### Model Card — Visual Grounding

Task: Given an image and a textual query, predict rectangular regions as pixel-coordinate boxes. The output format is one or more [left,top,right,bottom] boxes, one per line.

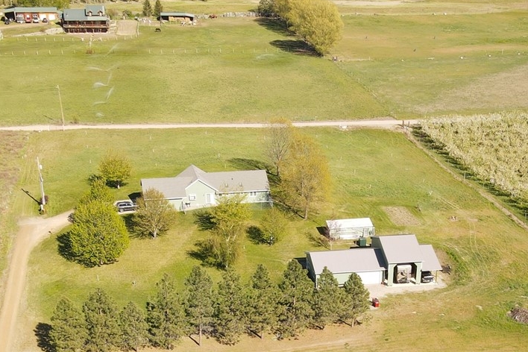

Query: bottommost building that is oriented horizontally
[309,233,443,288]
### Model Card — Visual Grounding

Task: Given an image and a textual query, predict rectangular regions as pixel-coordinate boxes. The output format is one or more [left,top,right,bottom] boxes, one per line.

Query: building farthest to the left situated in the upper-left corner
[1,8,62,22]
